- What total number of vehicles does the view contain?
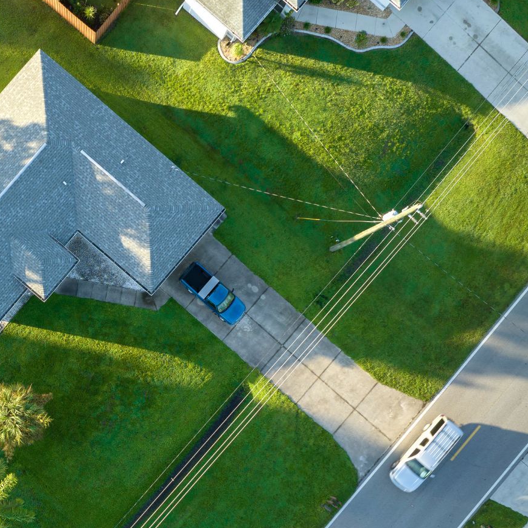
2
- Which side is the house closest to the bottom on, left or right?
left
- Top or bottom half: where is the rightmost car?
bottom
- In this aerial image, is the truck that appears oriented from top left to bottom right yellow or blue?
blue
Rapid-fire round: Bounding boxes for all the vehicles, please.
[390,415,464,489]
[177,260,245,325]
